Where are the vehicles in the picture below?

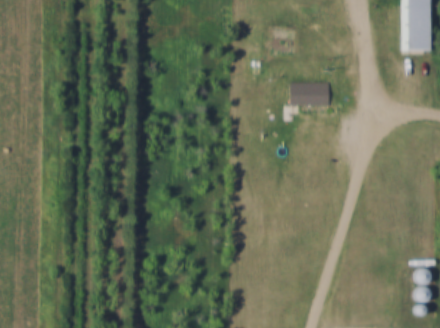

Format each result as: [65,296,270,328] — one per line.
[422,62,428,76]
[404,56,412,76]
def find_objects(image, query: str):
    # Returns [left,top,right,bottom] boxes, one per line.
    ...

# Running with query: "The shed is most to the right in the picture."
[400,0,432,54]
